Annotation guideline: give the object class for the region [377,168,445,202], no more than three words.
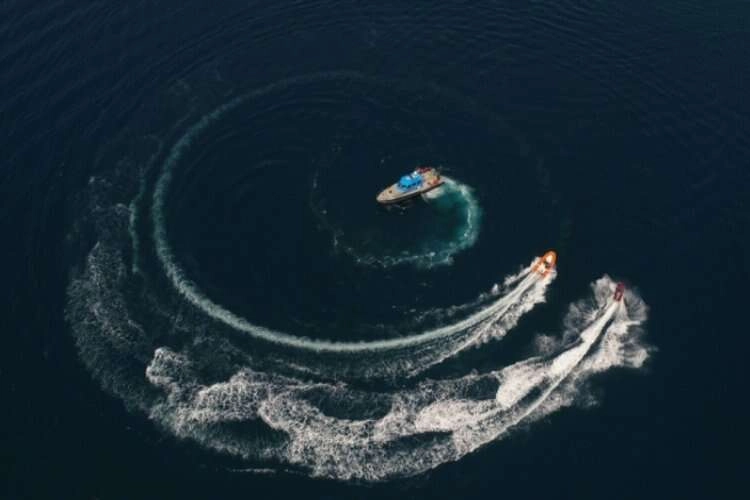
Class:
boat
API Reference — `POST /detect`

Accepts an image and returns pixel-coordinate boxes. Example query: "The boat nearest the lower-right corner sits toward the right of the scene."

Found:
[612,281,625,302]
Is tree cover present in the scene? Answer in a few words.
No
